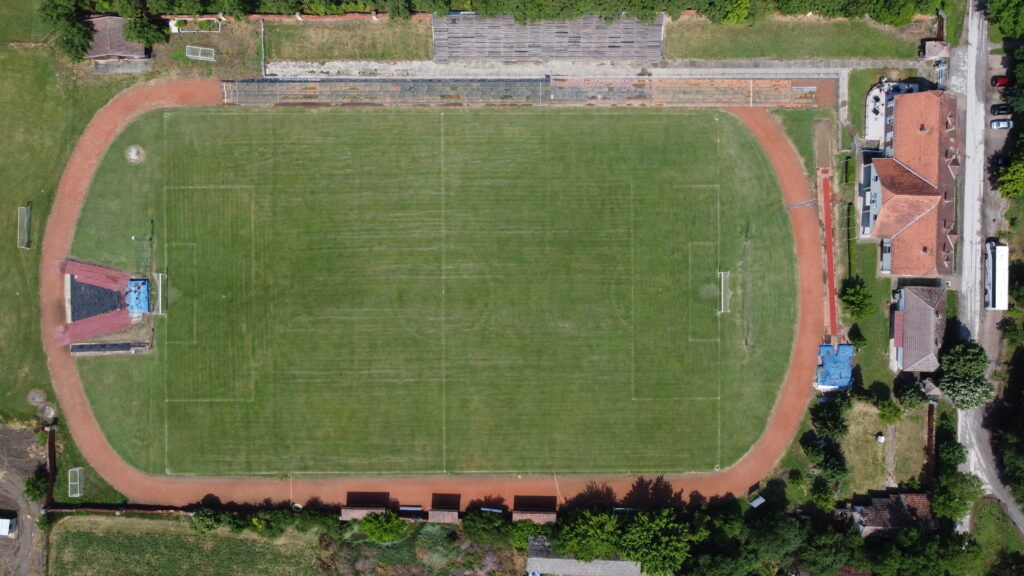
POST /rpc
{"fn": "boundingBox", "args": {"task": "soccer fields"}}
[69,105,799,476]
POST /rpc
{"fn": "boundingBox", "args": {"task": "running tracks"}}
[40,79,837,507]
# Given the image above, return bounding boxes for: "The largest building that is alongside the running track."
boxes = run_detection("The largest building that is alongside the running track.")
[857,90,959,275]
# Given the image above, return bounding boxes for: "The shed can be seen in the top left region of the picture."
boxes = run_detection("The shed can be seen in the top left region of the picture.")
[86,14,152,74]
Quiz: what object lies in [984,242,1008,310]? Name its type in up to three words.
bus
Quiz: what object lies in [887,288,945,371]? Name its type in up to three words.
house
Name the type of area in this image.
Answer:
sports ground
